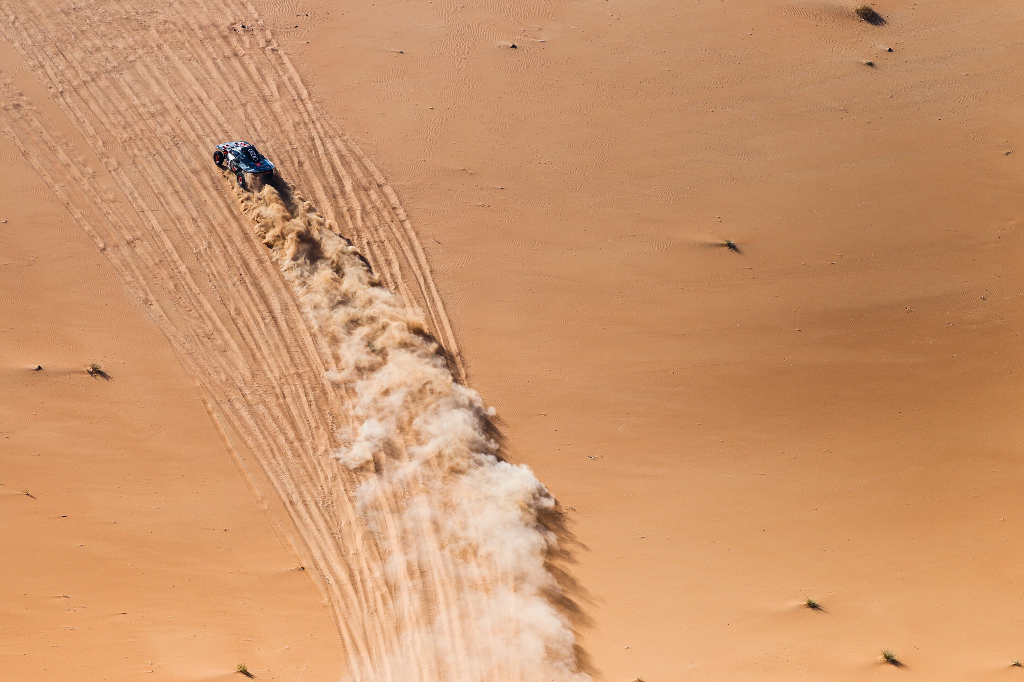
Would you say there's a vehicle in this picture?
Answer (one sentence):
Yes, looking at the shot, I can spot a vehicle.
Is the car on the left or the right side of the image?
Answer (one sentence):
The car sits on the left side.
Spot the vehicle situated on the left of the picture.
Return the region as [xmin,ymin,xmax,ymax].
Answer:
[211,139,276,188]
